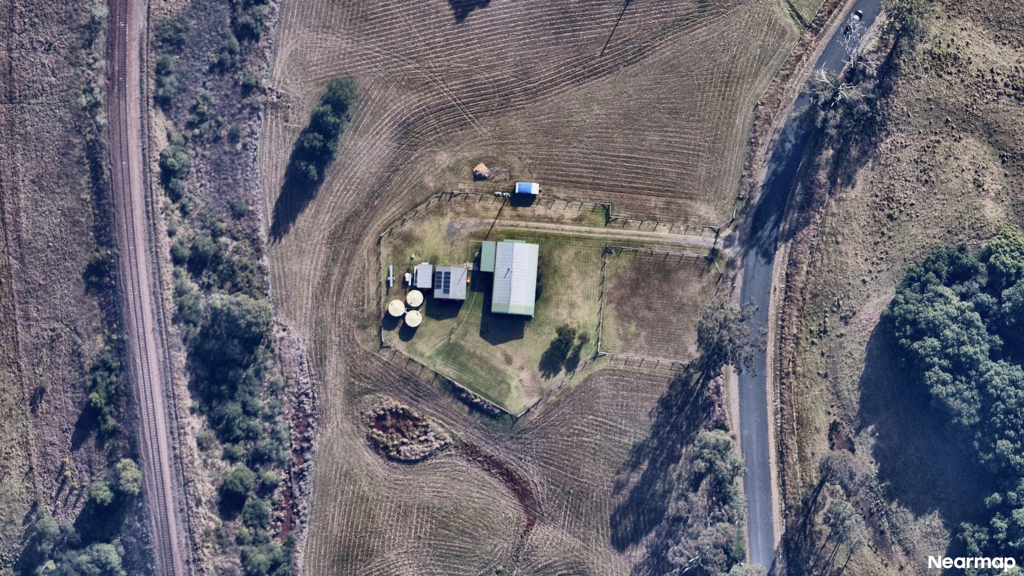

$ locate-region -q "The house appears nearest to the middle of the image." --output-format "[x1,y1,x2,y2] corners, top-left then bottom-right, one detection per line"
[480,239,543,318]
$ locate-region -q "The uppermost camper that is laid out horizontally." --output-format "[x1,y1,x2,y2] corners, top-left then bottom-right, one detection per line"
[516,182,543,195]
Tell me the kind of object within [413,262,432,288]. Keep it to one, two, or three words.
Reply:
shed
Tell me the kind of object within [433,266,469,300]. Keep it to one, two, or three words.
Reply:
shed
